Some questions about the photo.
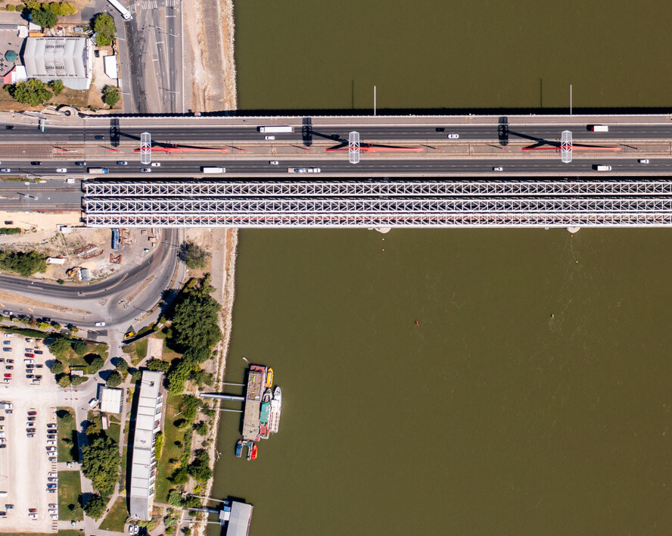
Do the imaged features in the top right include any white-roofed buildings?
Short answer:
No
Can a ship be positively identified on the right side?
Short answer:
No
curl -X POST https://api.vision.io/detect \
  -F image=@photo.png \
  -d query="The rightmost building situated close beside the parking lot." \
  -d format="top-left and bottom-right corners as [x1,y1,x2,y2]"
[129,367,169,521]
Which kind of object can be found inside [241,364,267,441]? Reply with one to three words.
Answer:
ship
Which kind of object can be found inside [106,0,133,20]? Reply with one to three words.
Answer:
vehicle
